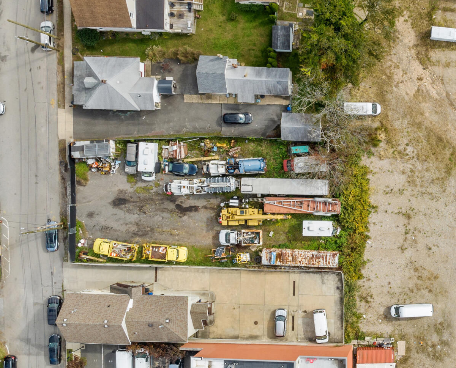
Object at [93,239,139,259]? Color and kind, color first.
yellow vehicle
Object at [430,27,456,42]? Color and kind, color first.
white vehicle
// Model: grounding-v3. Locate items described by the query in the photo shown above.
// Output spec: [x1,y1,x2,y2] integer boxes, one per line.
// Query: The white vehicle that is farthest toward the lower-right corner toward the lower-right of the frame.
[391,302,432,319]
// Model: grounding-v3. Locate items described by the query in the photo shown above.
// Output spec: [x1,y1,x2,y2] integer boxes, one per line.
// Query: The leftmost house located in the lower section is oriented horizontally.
[58,282,216,345]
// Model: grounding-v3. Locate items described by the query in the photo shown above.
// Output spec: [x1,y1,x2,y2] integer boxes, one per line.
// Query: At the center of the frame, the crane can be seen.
[224,208,289,226]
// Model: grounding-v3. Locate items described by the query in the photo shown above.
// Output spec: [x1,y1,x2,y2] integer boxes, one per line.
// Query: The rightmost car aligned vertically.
[314,308,329,342]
